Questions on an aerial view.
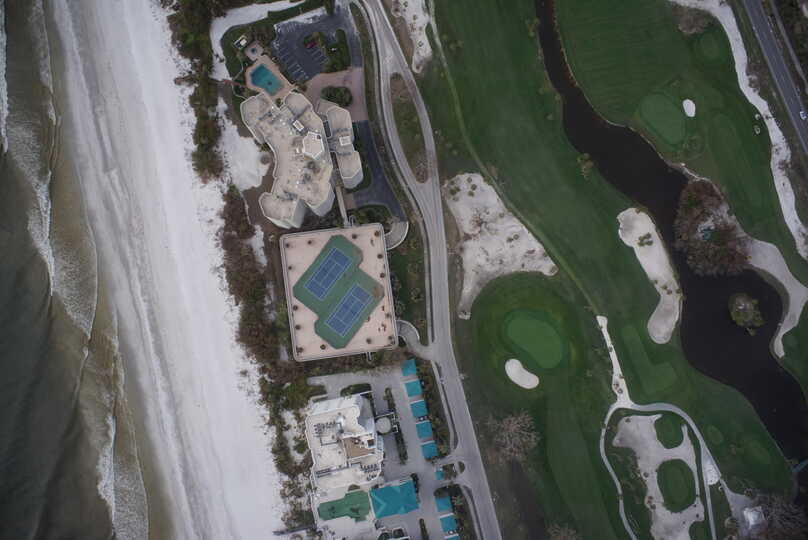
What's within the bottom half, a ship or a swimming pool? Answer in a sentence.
The one visible within the bottom half is a swimming pool.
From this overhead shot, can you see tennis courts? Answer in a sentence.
Yes, a tennis court can be made out from above.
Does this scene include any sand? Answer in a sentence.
Yes, sand can be seen from above here.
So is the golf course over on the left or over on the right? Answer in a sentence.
You can find the golf course on the right side of the picture.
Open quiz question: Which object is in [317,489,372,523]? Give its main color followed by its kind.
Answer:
green swimming pool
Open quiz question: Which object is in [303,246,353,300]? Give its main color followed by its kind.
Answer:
blue tennis court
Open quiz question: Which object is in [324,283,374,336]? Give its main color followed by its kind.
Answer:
blue tennis court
